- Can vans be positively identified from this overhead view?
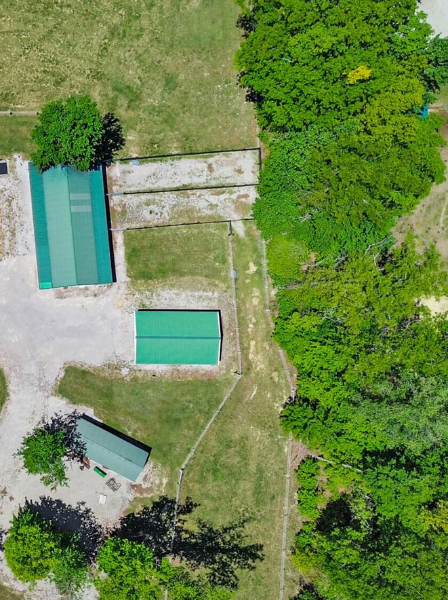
No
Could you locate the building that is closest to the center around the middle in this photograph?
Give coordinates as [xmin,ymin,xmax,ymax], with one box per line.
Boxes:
[133,308,222,368]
